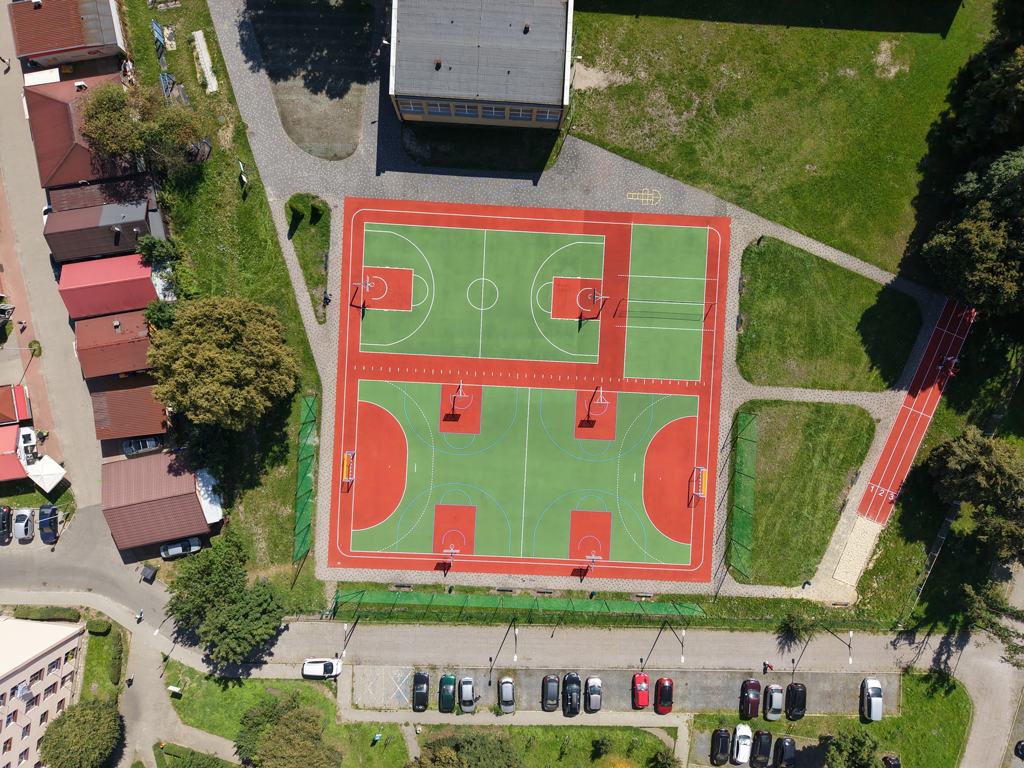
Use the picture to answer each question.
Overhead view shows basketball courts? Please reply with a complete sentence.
Yes, the image includes a basketball court.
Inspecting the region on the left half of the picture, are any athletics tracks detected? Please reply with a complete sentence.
No, no athletics track can be made out on the left half of the picture.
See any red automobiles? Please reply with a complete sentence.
Yes, the frame does contain a red automobile.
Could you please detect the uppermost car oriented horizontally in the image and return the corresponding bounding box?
[122,435,165,456]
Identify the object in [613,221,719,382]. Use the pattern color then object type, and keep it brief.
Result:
green sports court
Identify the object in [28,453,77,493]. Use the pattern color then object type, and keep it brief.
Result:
white tent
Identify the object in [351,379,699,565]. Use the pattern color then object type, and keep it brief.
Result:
green sports court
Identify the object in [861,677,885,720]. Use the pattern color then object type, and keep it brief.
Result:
white car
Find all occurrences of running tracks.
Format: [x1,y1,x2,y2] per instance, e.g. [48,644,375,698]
[855,299,975,526]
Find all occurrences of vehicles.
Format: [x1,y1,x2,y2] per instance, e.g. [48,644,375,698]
[458,675,481,712]
[563,673,582,716]
[498,675,516,713]
[47,258,67,292]
[713,726,732,766]
[303,658,342,679]
[38,505,60,543]
[438,674,457,712]
[775,734,796,768]
[787,682,806,720]
[542,675,560,711]
[122,435,165,456]
[861,677,885,720]
[733,724,753,763]
[411,673,430,711]
[14,507,35,542]
[161,537,202,558]
[742,678,762,718]
[585,675,603,711]
[656,677,674,713]
[765,683,784,720]
[752,728,773,767]
[0,506,14,543]
[633,671,651,708]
